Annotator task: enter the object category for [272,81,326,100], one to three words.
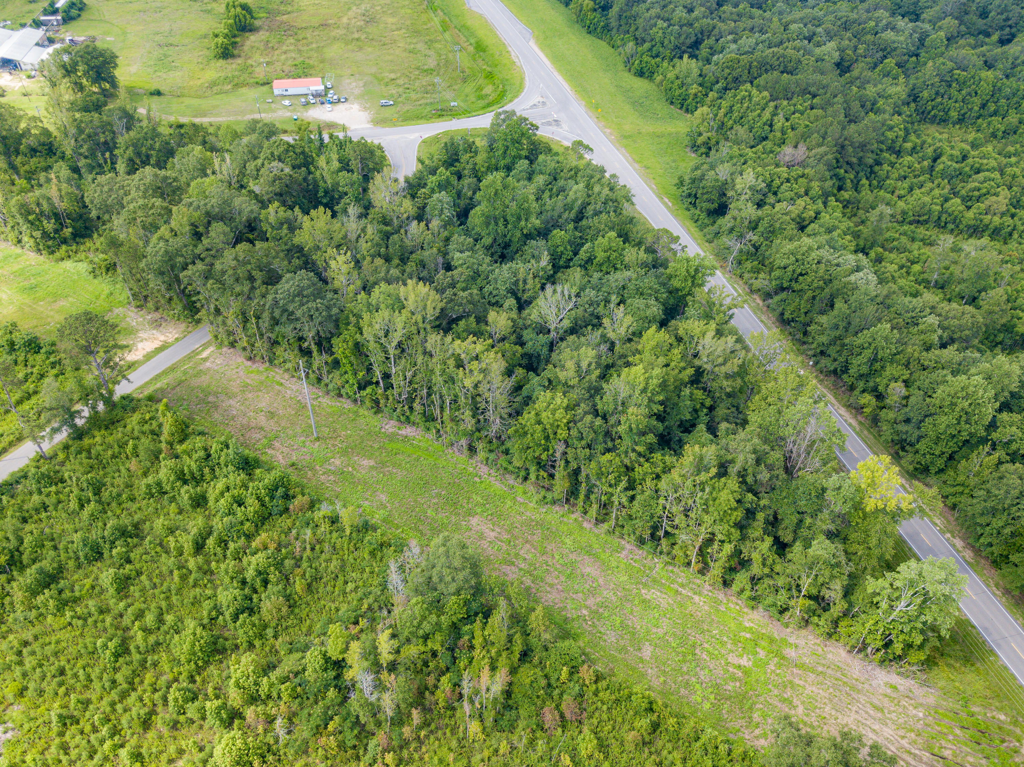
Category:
house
